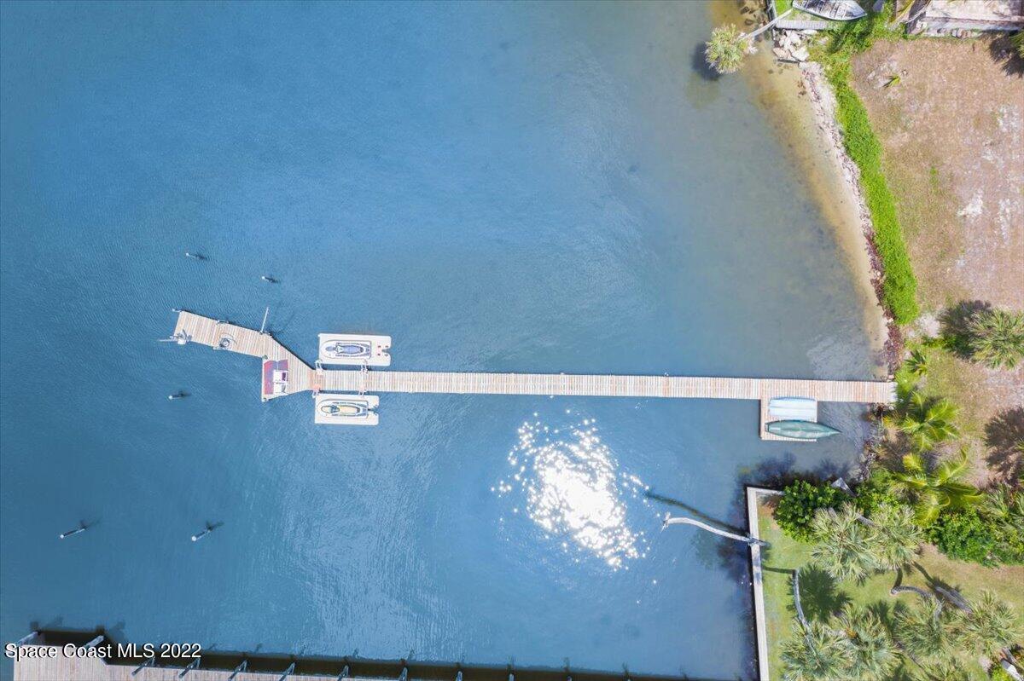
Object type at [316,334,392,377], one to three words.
pier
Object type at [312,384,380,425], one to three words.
pier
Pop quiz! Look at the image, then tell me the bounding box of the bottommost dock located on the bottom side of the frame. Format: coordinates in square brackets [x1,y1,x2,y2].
[12,631,736,681]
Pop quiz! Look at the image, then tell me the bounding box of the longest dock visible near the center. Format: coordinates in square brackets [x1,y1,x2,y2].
[167,309,896,441]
